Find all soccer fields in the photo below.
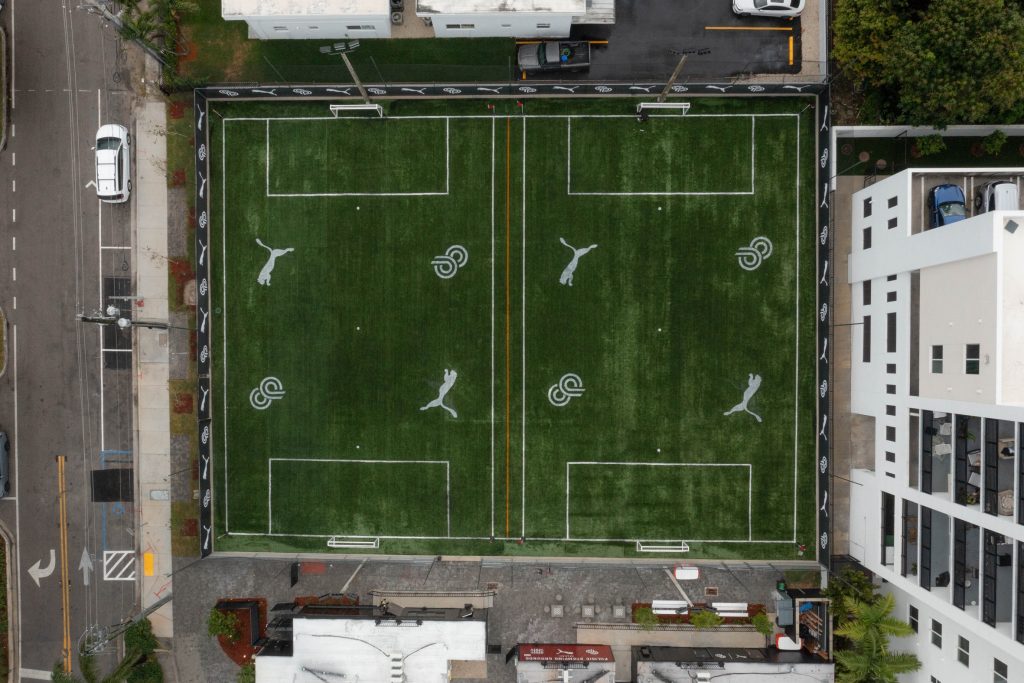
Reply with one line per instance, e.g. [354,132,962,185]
[209,98,510,554]
[504,96,817,556]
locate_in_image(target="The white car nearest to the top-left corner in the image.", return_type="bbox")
[92,124,133,202]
